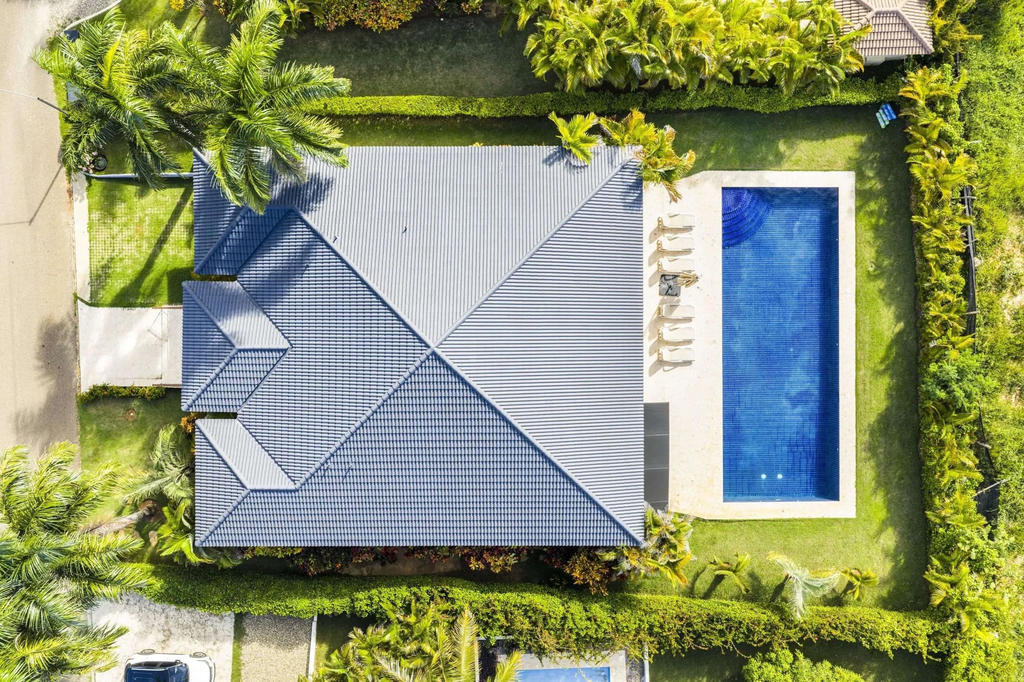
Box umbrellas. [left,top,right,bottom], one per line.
[661,271,698,294]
